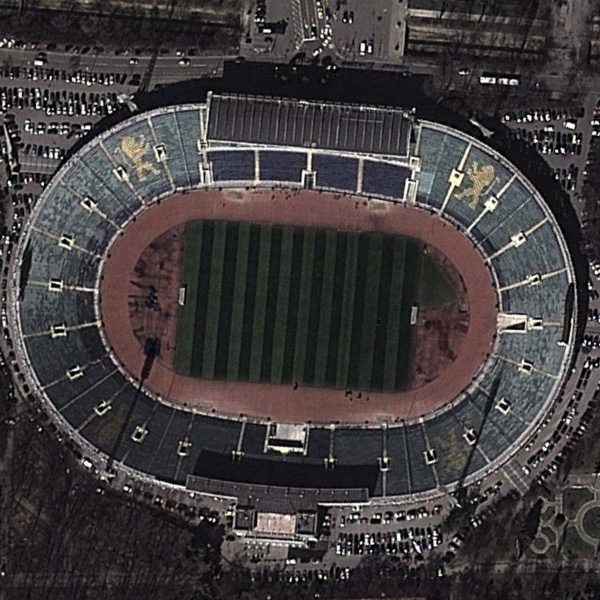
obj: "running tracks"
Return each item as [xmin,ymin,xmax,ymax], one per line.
[99,185,497,424]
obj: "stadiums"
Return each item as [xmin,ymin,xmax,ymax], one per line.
[12,91,578,546]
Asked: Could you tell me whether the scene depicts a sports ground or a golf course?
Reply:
sports ground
